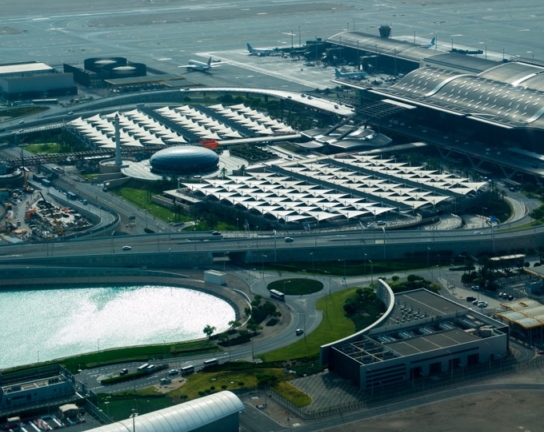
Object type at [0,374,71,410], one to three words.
building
